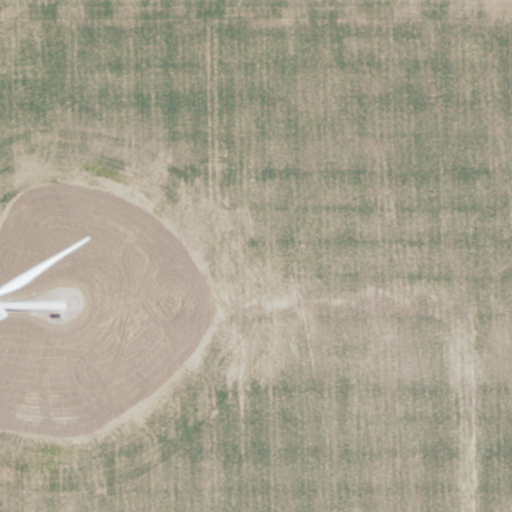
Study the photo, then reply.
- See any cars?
No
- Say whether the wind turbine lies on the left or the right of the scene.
left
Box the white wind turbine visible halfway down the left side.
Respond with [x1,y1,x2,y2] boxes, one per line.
[0,236,90,320]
